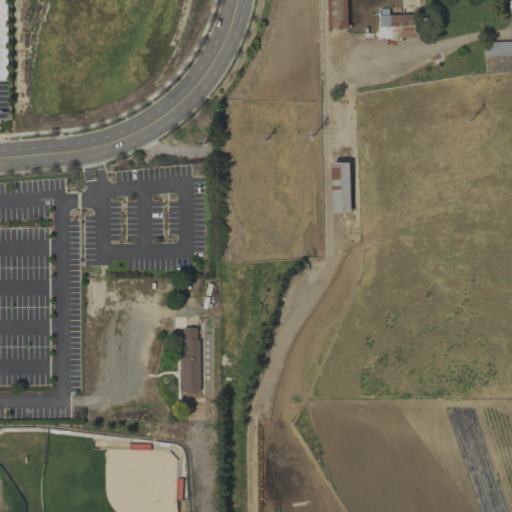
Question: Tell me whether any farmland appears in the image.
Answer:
Yes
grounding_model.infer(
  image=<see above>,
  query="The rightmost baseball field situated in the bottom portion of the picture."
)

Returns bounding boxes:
[44,432,186,512]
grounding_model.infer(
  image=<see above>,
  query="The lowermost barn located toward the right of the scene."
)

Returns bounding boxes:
[332,162,352,213]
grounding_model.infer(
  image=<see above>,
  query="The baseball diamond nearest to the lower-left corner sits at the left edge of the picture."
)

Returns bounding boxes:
[0,432,46,512]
